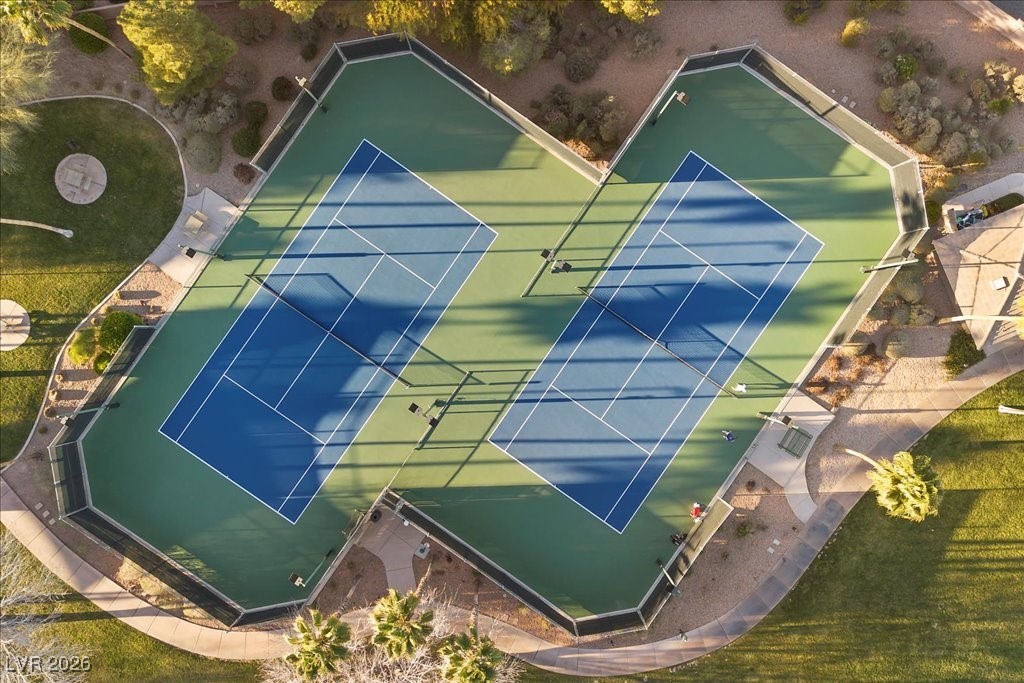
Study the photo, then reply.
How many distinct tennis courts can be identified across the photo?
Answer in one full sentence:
The count of tennis courts comes to 2.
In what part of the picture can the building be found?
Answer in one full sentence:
The building sits in the right section of the image.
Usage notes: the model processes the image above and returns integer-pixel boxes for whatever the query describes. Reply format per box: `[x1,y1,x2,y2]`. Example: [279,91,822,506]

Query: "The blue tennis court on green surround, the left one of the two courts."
[84,56,598,606]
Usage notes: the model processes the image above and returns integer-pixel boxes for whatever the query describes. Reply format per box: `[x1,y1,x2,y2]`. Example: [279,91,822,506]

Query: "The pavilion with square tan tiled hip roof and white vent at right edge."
[919,197,1024,350]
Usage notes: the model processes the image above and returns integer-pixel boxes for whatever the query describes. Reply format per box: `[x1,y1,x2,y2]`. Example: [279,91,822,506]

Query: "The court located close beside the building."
[391,70,894,616]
